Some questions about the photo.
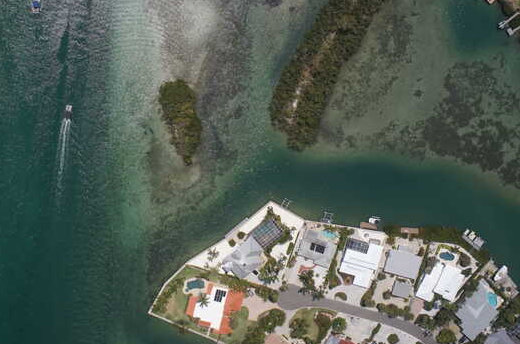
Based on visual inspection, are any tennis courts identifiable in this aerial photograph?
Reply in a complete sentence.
No, I can see no tennis court in this picture.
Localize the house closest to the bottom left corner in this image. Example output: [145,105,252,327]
[186,282,243,334]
